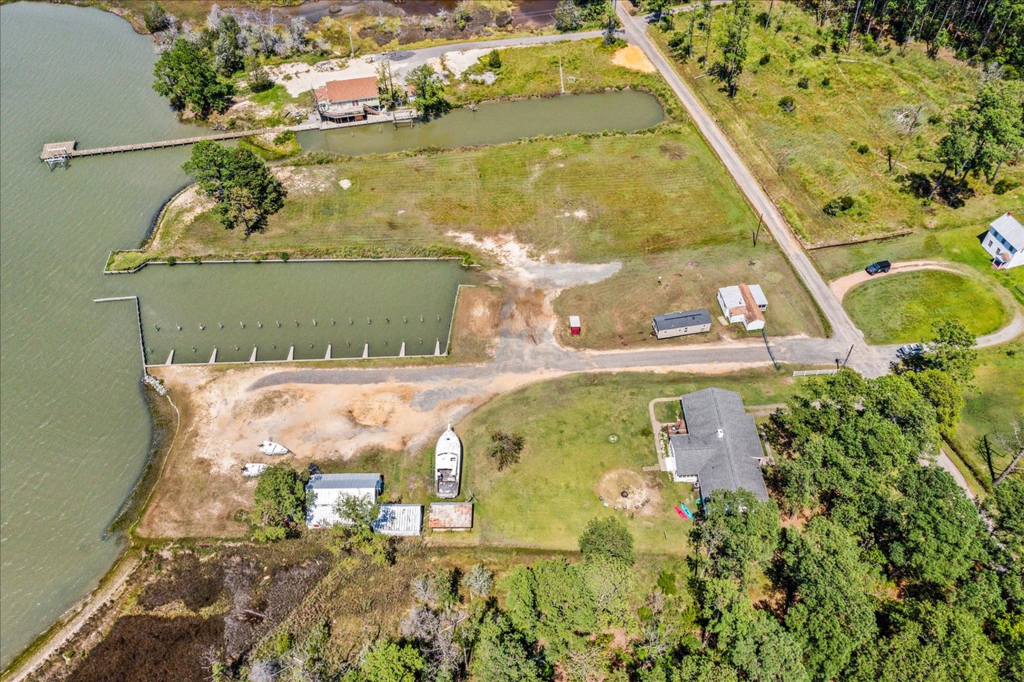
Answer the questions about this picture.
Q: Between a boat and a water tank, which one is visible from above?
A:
boat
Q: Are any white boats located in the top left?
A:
No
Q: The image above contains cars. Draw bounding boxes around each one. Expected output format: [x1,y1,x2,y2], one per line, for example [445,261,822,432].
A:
[899,340,928,355]
[865,260,891,274]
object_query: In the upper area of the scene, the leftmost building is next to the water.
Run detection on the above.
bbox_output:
[313,76,380,126]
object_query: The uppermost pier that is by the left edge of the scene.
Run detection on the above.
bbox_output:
[39,130,291,164]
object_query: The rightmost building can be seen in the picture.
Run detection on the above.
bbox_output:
[982,210,1024,286]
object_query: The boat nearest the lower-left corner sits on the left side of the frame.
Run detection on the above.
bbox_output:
[238,464,277,479]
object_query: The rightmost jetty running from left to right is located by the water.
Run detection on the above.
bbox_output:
[298,110,419,134]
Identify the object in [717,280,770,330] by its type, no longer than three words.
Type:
house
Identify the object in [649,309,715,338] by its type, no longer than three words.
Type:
house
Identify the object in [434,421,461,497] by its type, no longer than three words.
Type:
boat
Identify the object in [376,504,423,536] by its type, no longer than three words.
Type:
shed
